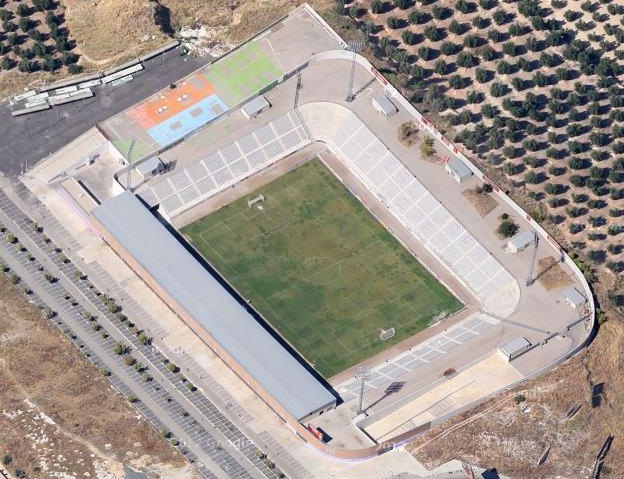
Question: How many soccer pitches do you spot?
1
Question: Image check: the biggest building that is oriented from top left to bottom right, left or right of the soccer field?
on the left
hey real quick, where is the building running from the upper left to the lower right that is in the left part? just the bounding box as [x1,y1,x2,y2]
[62,177,100,213]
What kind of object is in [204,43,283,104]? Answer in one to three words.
sports court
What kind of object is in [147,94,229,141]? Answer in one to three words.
sports court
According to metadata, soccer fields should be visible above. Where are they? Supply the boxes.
[179,157,466,381]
